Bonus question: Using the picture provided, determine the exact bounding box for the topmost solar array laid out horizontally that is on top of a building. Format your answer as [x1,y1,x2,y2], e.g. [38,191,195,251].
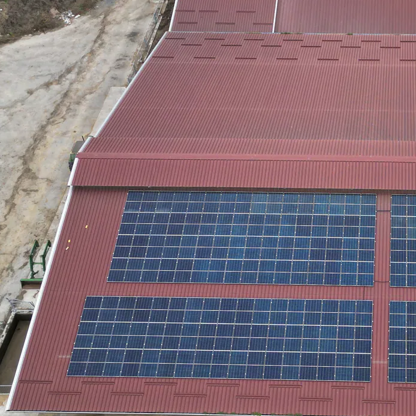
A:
[107,190,378,286]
